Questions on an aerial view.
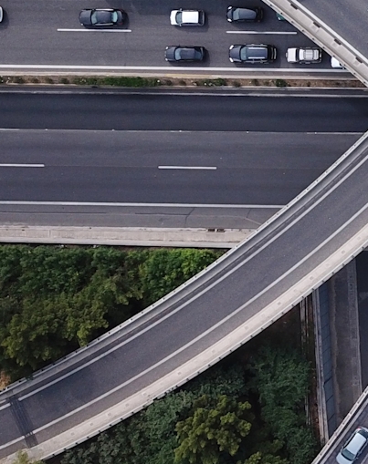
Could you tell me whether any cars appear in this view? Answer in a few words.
Yes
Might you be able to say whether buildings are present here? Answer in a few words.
No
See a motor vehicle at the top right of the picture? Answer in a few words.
Yes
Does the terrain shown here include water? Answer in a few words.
No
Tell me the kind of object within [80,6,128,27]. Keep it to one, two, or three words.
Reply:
car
